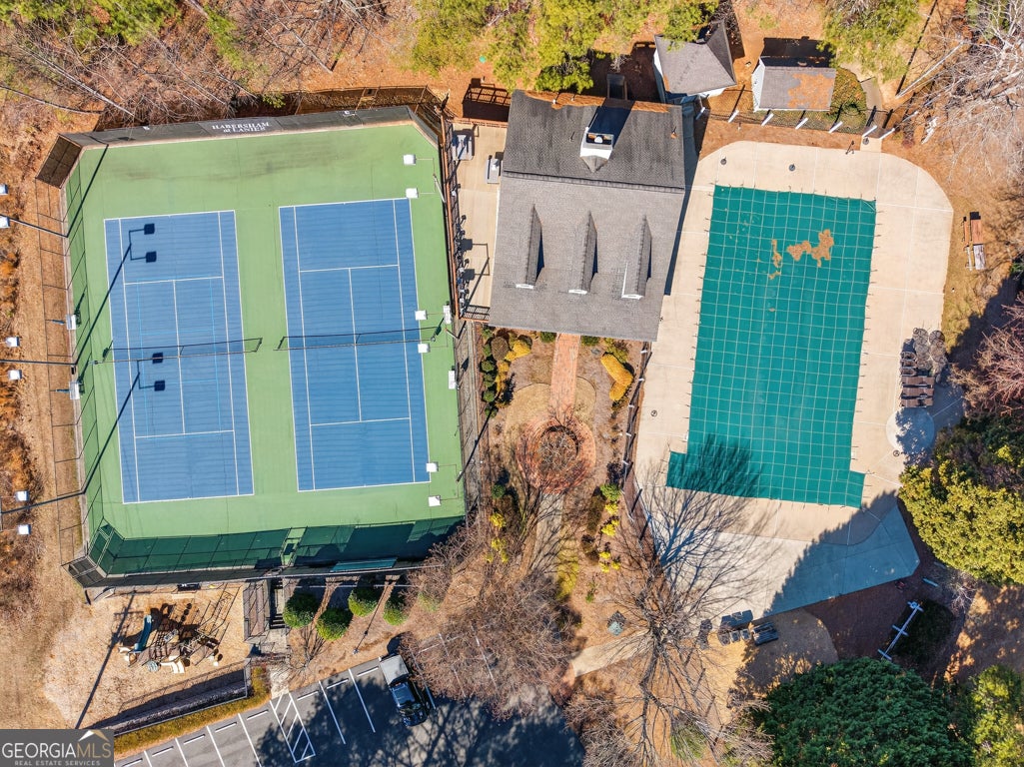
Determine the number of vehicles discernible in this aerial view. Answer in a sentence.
My tally gives 1 vehicle in this photo.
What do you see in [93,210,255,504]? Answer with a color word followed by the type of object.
blue tennis court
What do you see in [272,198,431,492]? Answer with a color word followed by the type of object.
blue tennis court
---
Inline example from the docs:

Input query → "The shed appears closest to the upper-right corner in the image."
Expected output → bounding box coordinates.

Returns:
[749,57,838,114]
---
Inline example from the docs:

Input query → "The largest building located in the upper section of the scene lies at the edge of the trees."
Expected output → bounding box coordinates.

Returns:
[490,63,682,343]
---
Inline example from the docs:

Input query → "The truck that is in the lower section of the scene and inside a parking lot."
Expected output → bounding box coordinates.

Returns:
[378,649,427,725]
